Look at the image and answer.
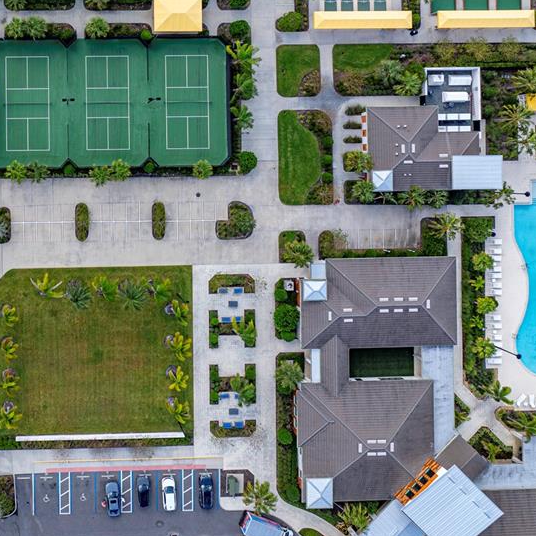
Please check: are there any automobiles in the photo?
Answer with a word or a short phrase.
Yes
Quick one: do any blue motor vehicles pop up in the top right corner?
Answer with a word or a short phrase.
No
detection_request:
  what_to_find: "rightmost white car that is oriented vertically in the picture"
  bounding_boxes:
[162,473,178,509]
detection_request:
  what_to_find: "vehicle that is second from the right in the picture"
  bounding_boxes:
[198,470,215,508]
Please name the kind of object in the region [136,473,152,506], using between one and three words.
car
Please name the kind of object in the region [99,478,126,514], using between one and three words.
car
